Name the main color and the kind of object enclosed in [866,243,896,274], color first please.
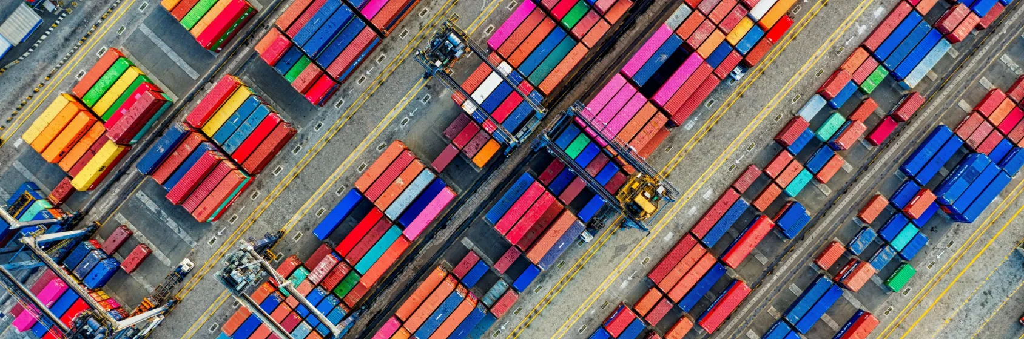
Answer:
blue shipping container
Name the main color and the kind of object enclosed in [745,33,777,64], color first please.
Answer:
red shipping container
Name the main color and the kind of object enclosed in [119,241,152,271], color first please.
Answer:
red shipping container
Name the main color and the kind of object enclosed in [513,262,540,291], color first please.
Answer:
blue shipping container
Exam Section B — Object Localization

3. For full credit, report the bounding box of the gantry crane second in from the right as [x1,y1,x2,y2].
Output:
[408,1,552,153]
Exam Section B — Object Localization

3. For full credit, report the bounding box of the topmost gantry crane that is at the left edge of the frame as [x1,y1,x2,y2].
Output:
[0,199,88,253]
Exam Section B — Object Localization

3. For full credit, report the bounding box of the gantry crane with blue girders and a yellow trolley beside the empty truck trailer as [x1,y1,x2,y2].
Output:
[529,96,680,241]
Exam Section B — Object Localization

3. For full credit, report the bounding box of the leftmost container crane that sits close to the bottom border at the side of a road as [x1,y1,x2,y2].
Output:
[0,222,180,339]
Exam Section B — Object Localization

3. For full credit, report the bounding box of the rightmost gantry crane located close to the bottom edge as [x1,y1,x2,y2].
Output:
[207,226,369,339]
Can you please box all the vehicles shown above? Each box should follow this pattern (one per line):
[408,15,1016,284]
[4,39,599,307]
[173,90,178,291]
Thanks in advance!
[148,256,196,306]
[726,50,754,85]
[576,206,616,248]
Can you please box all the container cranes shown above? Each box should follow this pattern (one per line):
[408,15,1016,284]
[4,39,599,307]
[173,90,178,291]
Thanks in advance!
[207,226,369,339]
[0,222,180,339]
[408,1,552,153]
[0,199,88,253]
[529,96,680,241]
